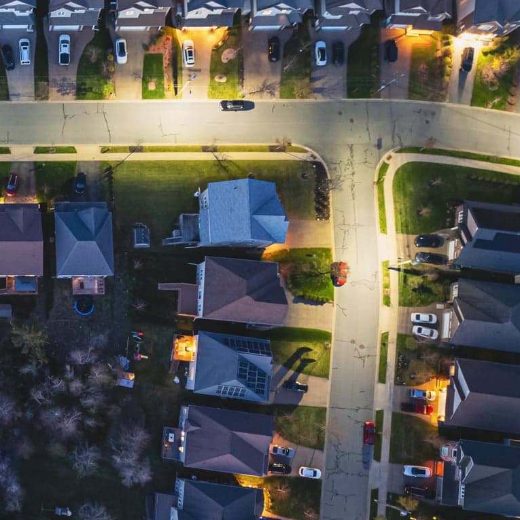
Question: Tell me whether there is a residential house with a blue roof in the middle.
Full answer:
Yes, there is a residential house with a blue roof in the middle.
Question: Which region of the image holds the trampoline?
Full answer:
The trampoline is located in the left region of the scene.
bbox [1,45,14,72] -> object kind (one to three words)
vehicle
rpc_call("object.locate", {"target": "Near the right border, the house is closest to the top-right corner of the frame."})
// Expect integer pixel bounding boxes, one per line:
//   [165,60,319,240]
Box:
[452,0,520,39]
